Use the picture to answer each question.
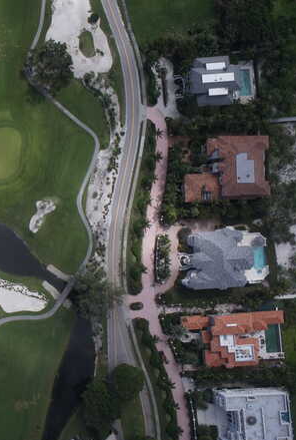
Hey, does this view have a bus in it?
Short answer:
No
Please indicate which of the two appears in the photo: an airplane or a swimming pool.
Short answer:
swimming pool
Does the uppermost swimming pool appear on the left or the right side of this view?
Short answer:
right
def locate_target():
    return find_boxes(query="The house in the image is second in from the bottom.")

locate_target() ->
[181,311,285,369]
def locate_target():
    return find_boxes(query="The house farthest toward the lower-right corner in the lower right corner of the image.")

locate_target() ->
[205,384,292,440]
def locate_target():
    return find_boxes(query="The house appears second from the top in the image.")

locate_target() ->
[182,136,272,202]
